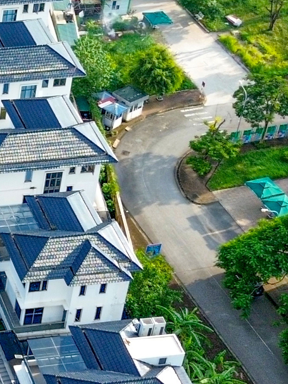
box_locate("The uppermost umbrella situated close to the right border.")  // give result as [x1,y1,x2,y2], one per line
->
[243,177,287,206]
